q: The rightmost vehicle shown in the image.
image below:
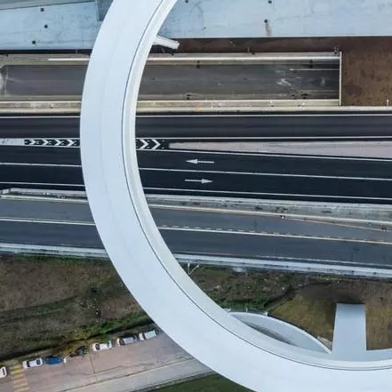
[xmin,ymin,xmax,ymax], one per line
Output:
[136,327,157,342]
